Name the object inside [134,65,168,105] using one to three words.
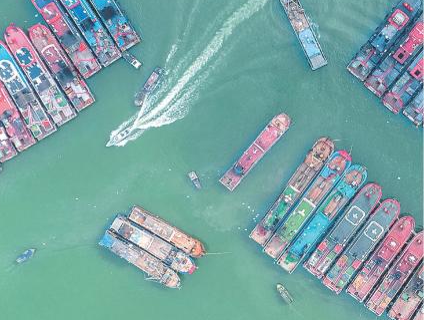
boat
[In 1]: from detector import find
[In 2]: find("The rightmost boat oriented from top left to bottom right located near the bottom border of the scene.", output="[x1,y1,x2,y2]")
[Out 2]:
[275,284,294,305]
